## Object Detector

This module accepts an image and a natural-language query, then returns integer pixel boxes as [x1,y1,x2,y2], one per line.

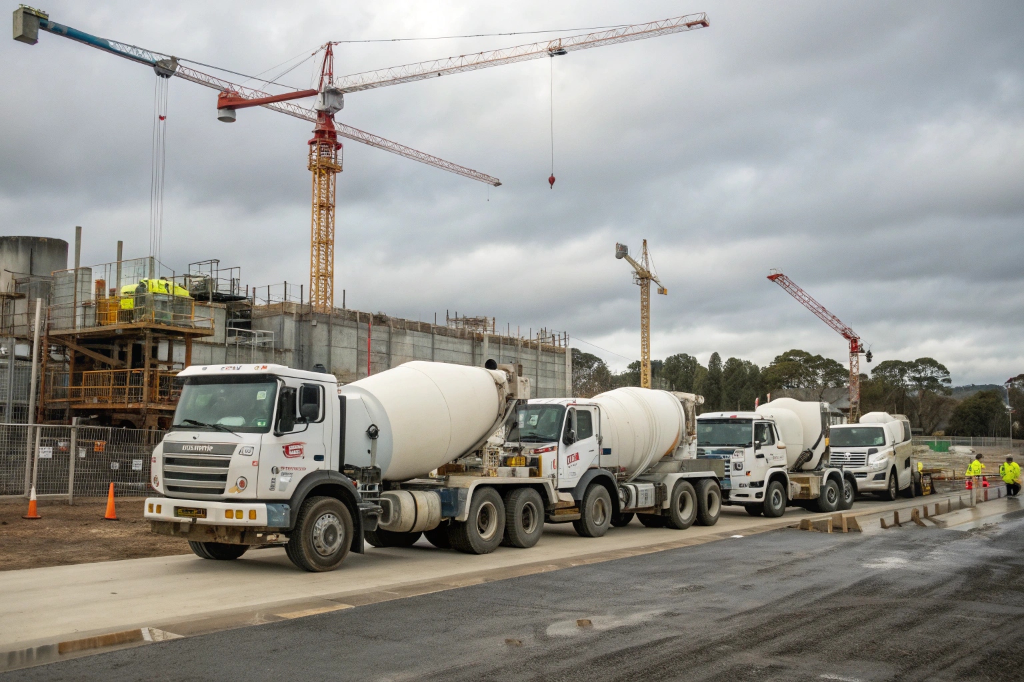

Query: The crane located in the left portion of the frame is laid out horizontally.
[10,0,711,311]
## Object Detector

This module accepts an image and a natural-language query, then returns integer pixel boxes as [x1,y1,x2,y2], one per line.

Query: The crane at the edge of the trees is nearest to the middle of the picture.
[568,240,667,372]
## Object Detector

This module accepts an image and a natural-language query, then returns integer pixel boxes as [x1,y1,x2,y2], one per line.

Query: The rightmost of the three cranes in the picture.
[767,255,894,401]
